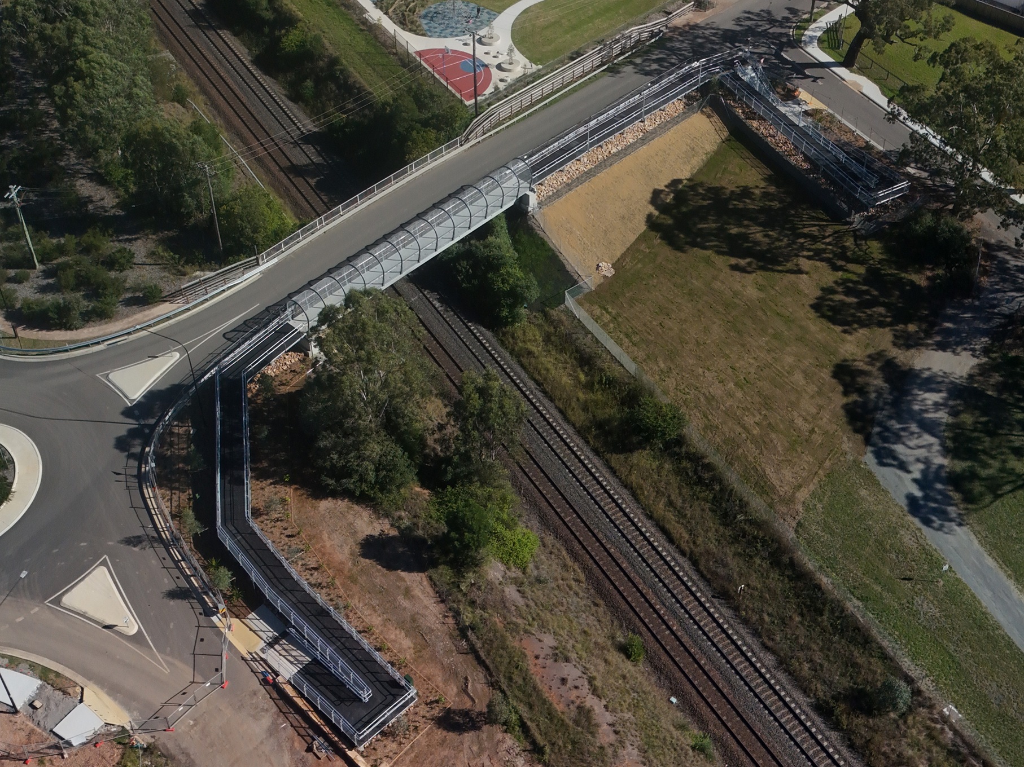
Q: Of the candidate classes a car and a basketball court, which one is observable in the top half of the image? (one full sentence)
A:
There is a basketball court in the top half of the image.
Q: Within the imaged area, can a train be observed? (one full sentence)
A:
No, this view has no train in it.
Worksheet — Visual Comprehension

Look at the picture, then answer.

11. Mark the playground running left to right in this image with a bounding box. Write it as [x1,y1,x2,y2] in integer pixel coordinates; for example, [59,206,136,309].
[420,0,500,38]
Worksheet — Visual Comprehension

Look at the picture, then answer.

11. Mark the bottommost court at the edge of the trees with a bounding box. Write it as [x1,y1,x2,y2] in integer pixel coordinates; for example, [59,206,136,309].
[414,48,492,101]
